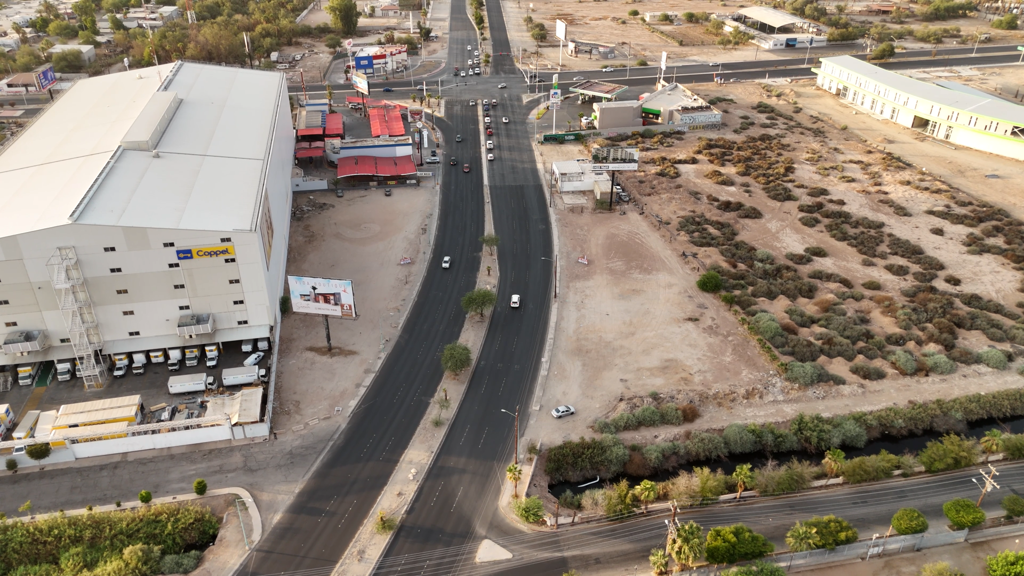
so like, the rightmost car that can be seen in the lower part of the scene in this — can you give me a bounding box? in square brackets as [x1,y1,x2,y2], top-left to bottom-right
[551,403,576,417]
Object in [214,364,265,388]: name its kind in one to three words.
truck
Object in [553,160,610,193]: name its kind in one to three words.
house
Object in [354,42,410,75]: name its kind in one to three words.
building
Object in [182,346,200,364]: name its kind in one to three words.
vehicle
